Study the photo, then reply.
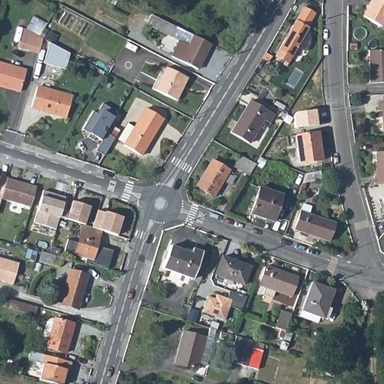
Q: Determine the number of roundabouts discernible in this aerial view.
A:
1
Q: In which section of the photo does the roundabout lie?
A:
center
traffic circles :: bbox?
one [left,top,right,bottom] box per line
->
[120,162,202,244]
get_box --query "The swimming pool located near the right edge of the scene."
[352,26,366,40]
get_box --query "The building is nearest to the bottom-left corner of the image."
[28,352,72,384]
